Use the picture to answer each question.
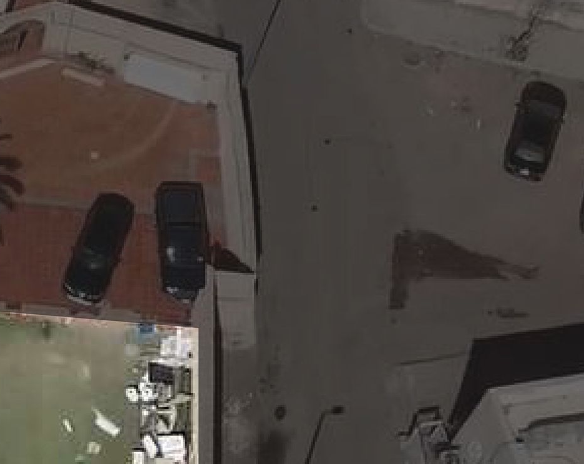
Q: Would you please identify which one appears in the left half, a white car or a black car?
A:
black car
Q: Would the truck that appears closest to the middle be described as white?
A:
No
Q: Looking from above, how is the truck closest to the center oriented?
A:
up and down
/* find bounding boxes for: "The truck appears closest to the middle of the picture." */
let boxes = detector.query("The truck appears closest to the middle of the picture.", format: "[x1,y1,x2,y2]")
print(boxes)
[156,183,211,303]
